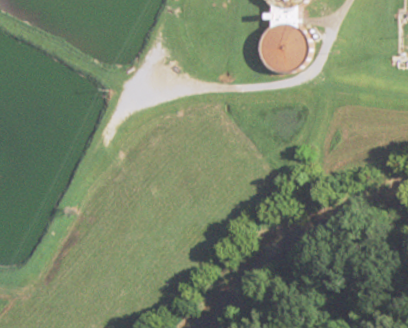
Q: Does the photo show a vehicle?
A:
No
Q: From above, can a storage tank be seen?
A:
Yes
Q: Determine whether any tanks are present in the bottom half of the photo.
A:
No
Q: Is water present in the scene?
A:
Yes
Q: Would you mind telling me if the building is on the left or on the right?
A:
right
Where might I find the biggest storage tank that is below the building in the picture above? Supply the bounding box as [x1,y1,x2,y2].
[259,23,314,75]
